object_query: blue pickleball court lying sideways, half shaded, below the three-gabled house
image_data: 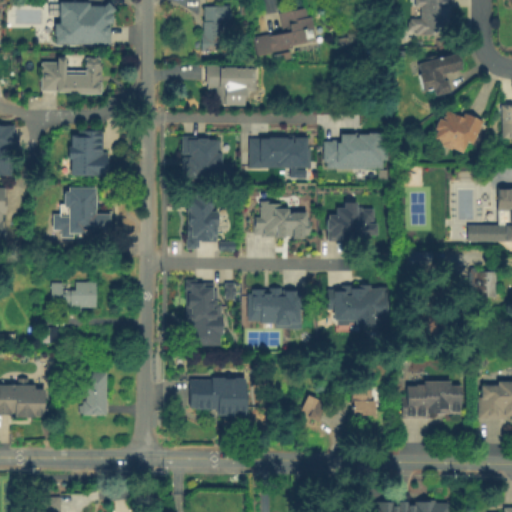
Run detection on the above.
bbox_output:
[244,328,282,350]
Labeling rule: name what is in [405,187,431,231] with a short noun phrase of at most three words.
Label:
sports court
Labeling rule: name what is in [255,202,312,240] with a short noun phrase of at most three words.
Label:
house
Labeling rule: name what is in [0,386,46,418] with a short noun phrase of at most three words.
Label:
house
